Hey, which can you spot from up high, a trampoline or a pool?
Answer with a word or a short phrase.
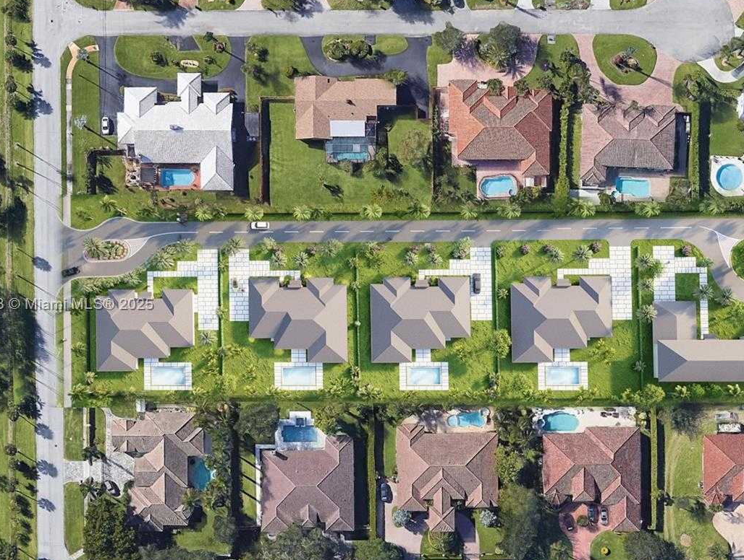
pool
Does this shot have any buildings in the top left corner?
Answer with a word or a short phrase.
Yes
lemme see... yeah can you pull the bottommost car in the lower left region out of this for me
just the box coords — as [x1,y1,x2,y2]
[106,480,119,497]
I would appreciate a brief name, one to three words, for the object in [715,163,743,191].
swimming pool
